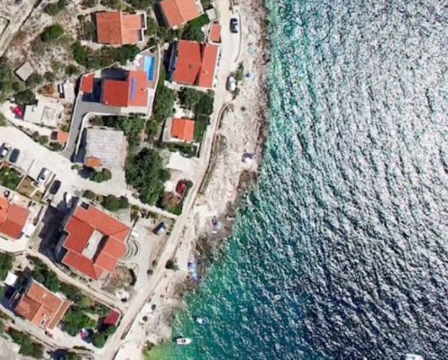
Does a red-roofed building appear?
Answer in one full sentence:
Yes, a red-roofed building appears in the view.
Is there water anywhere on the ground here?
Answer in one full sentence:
Yes, the picture does contain water.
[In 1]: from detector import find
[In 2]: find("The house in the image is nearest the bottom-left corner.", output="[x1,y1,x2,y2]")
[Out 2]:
[12,274,70,331]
